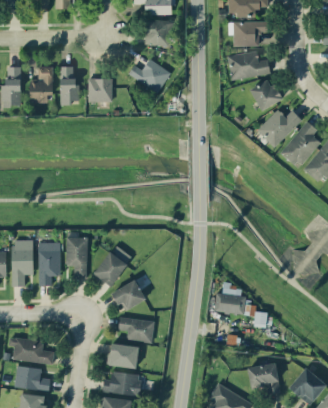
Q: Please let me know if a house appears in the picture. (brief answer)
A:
Yes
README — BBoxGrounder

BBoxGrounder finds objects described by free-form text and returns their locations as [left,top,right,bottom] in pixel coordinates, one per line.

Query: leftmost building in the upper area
[0,66,20,106]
